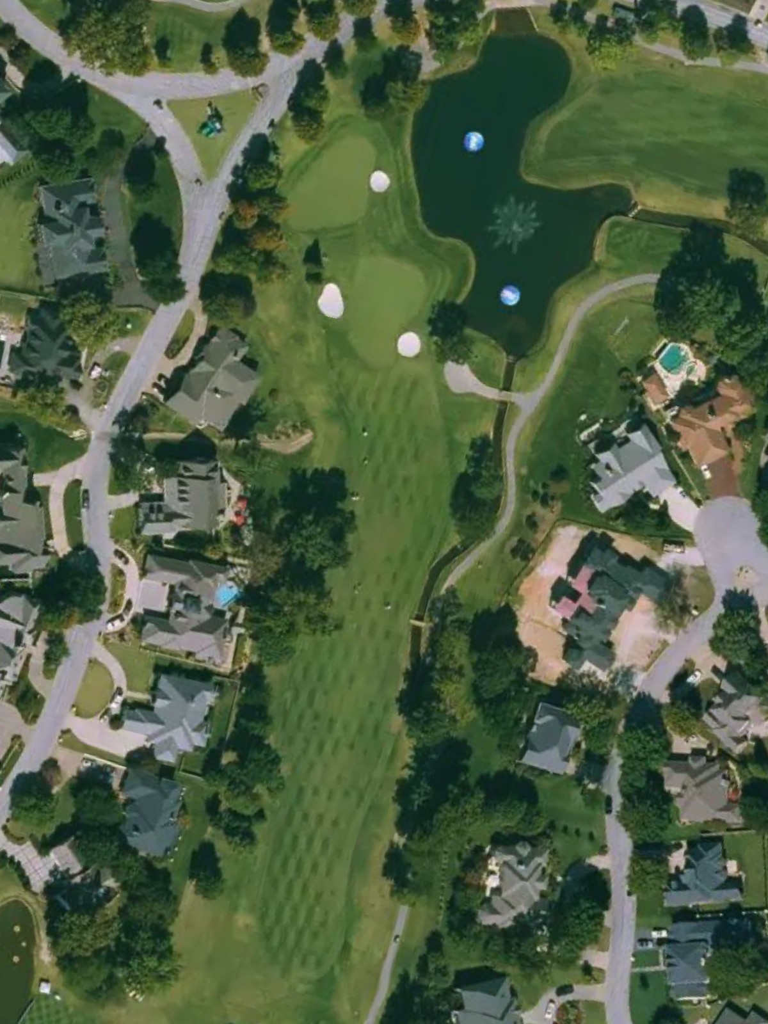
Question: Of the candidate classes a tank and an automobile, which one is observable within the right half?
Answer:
automobile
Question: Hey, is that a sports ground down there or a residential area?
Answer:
residential area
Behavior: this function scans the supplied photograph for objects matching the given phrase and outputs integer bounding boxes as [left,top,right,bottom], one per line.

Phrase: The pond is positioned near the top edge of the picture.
[411,9,635,362]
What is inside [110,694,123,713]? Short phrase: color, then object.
white vehicle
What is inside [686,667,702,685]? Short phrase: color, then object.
white car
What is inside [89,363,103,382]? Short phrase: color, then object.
white car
